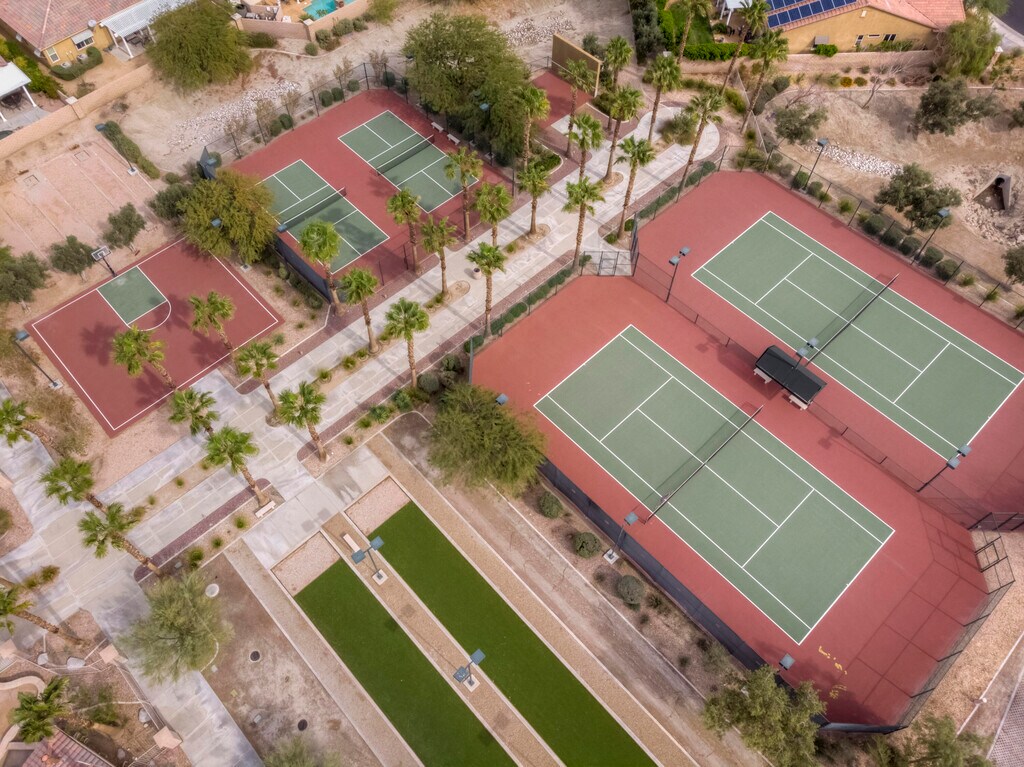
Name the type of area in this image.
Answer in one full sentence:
This image shows a sports ground.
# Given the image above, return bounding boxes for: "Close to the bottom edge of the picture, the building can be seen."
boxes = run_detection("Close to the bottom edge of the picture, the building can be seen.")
[21,731,111,767]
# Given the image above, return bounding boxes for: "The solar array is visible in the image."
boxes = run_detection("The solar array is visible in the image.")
[758,0,857,27]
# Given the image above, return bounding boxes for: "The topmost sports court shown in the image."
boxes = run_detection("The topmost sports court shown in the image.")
[491,71,590,141]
